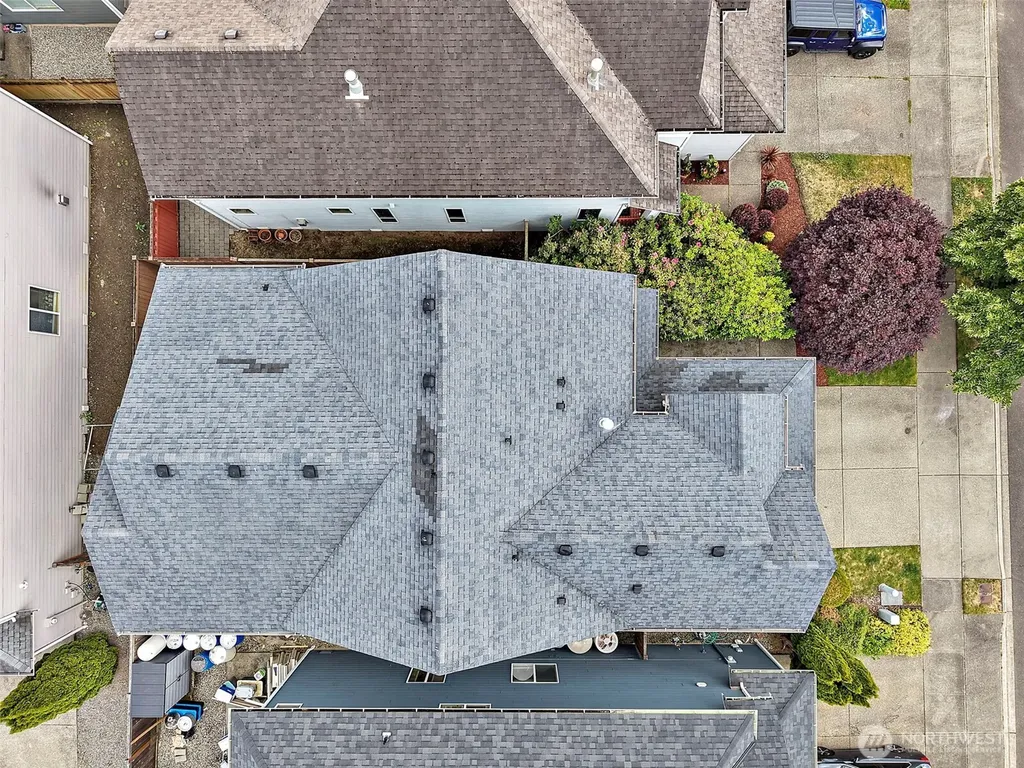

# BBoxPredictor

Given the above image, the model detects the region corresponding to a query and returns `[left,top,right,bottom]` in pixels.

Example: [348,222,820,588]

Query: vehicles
[818,744,933,768]
[788,0,886,58]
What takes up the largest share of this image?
buildings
